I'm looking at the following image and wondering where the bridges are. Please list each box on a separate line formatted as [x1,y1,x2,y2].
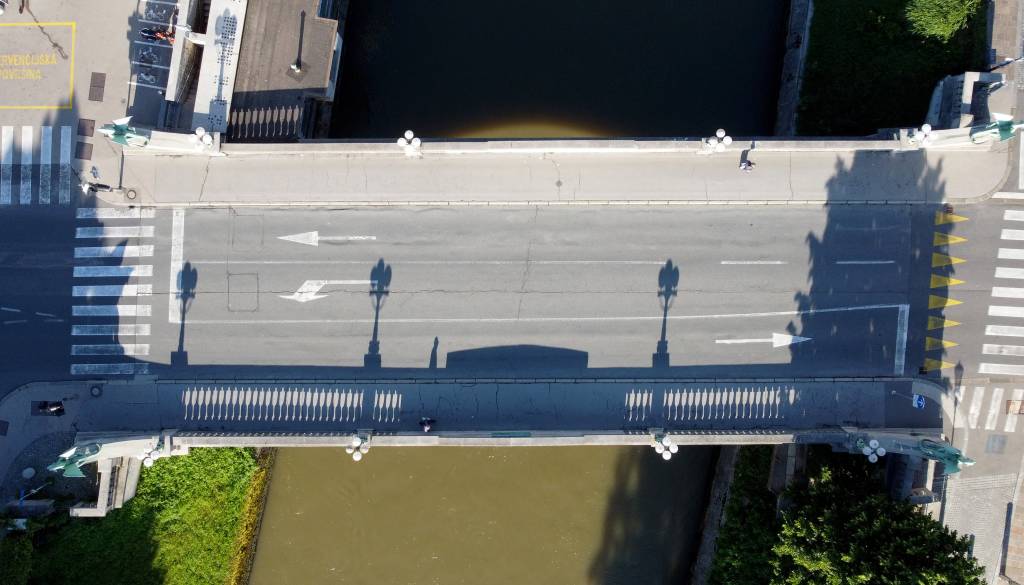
[122,139,1011,441]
